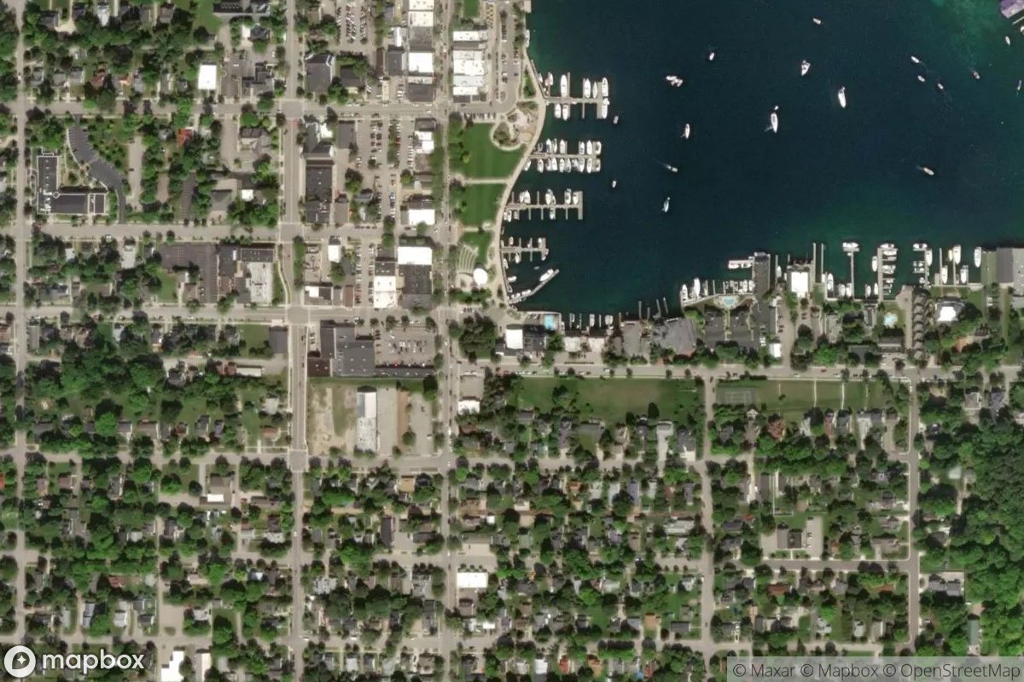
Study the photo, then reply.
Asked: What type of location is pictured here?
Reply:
residential area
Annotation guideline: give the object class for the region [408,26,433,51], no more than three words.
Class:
building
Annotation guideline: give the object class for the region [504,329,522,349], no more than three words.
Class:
building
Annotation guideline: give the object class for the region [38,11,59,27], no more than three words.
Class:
house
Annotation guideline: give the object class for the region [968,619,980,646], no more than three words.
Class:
shed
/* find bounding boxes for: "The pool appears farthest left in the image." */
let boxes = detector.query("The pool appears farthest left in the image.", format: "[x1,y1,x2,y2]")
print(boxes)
[538,314,560,332]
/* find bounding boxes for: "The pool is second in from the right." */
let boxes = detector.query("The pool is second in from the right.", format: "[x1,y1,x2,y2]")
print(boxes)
[715,296,739,309]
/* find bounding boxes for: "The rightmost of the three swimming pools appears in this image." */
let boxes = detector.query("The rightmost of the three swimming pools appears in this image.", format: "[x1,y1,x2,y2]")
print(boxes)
[883,312,899,328]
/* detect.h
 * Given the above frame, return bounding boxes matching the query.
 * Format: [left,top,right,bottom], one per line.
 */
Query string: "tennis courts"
[724,389,754,404]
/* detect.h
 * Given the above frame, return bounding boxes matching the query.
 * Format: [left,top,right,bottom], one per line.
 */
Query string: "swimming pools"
[883,312,899,328]
[538,314,560,332]
[715,296,739,309]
